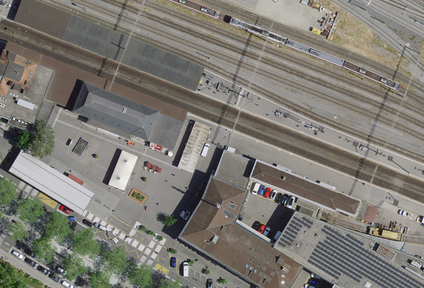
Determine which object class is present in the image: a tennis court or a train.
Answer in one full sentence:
I can see a train in this picture.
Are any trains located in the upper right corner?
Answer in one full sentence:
Yes, you'll find a train in the upper right corner.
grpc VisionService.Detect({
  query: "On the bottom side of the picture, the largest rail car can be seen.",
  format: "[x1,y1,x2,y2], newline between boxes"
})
[382,230,402,242]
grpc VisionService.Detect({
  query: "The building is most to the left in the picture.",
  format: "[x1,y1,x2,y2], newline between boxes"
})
[0,48,54,130]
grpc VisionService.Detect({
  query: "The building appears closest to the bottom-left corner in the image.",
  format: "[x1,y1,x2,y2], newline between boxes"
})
[109,150,138,190]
